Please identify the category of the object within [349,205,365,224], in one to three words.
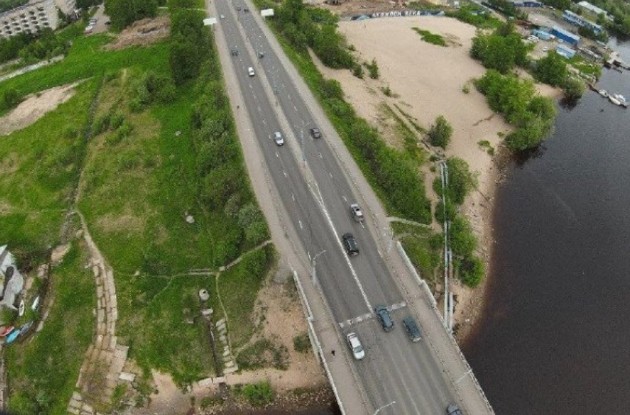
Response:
car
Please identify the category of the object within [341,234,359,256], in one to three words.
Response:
car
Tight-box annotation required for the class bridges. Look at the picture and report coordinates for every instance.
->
[293,248,496,415]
